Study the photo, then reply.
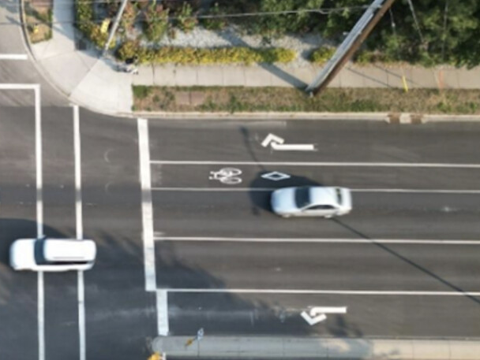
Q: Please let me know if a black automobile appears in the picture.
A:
No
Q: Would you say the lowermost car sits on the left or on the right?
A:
left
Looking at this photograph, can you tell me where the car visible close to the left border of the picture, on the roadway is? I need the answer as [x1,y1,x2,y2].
[8,232,98,275]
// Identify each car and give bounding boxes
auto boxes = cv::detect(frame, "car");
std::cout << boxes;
[8,232,98,275]
[268,180,354,221]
